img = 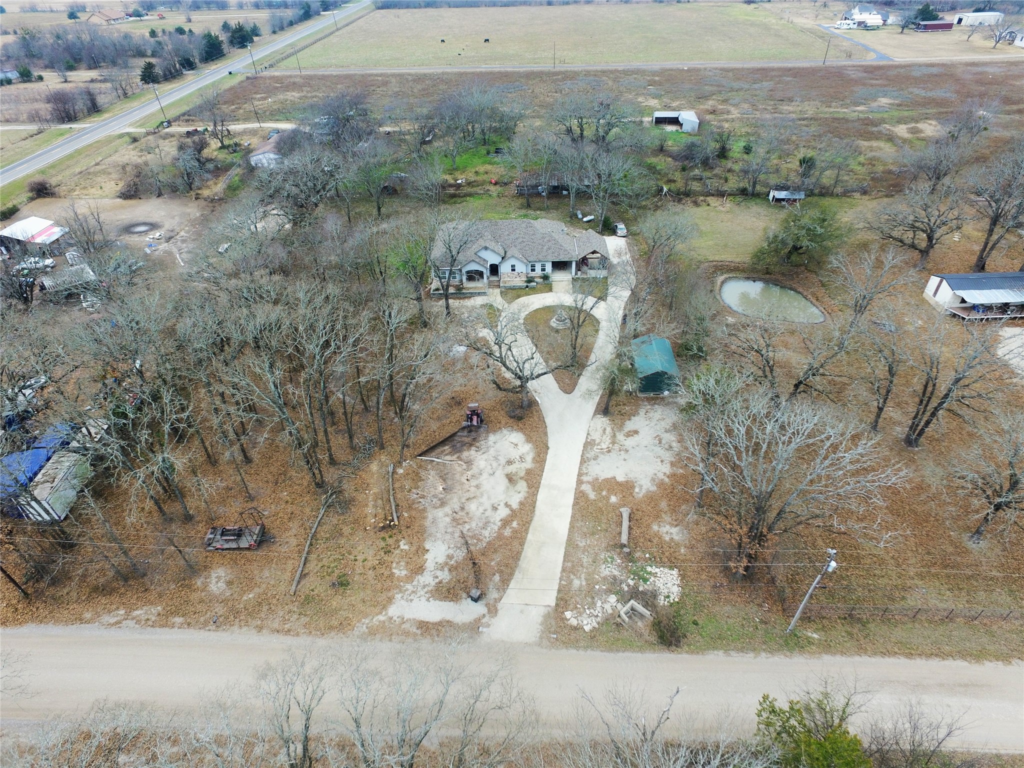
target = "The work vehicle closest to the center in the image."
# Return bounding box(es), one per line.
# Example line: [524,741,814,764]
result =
[463,396,484,439]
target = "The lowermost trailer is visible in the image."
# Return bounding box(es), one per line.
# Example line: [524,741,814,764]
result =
[202,501,277,549]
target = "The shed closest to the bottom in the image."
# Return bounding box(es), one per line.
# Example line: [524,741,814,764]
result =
[630,329,685,393]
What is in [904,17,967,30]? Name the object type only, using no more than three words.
building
